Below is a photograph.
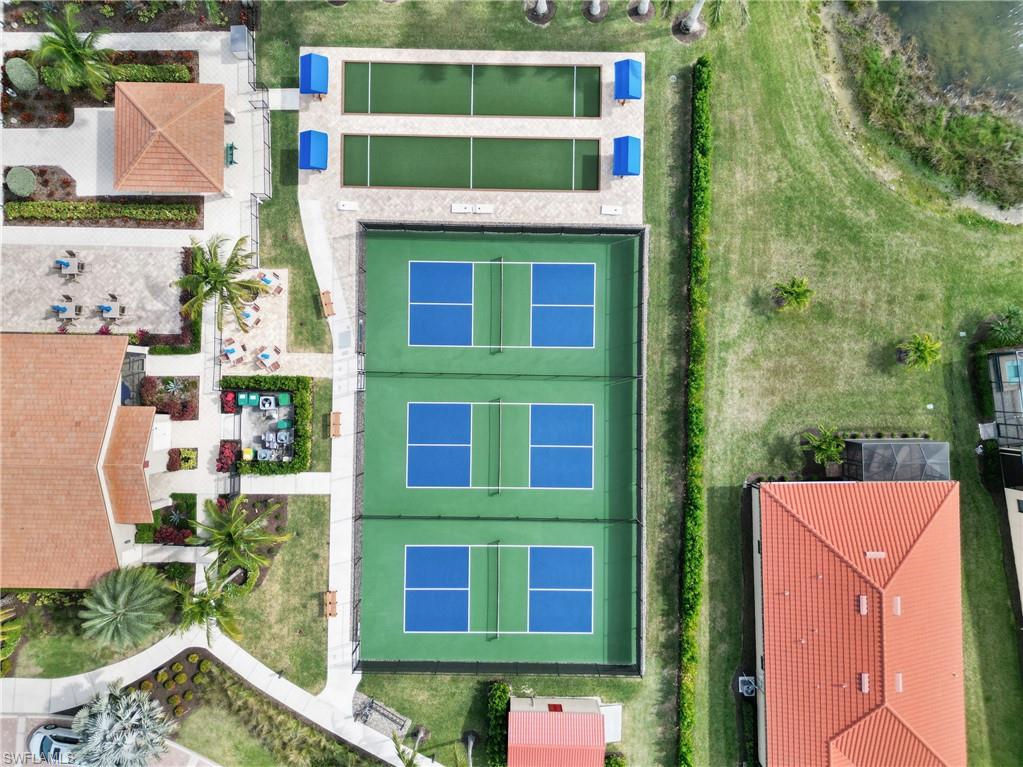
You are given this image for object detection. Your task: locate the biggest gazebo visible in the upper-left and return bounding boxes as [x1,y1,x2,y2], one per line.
[112,81,240,204]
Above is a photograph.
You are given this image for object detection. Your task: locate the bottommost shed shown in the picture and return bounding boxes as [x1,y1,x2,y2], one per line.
[508,698,605,766]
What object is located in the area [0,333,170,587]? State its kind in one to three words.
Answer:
building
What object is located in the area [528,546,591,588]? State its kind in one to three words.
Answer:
sports court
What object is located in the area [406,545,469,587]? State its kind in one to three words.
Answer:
sports court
